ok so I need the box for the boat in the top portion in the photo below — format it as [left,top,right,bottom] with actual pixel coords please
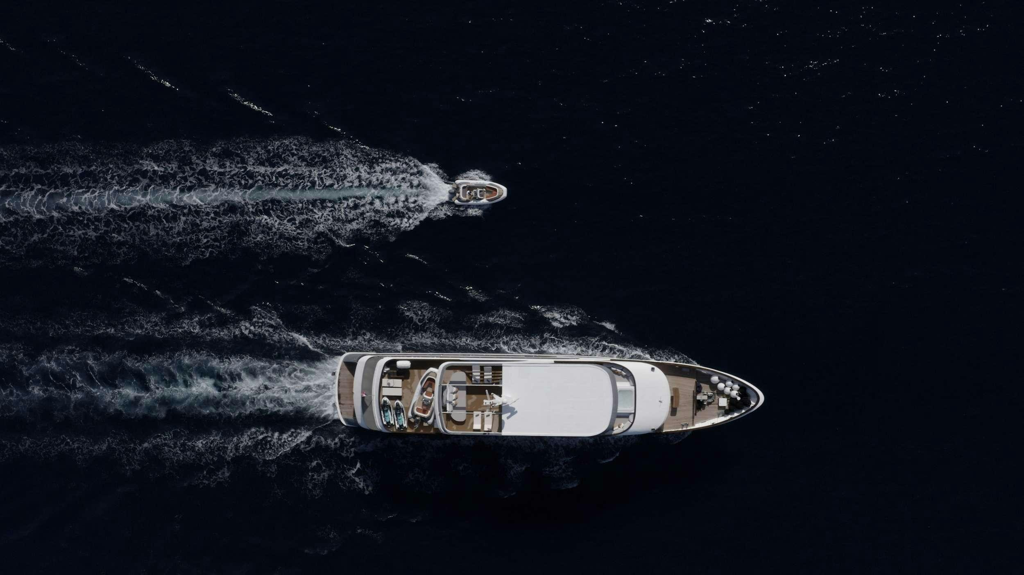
[449,180,507,205]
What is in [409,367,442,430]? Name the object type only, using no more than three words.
boat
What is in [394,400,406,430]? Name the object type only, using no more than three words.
boat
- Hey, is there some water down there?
Yes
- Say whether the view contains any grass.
No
